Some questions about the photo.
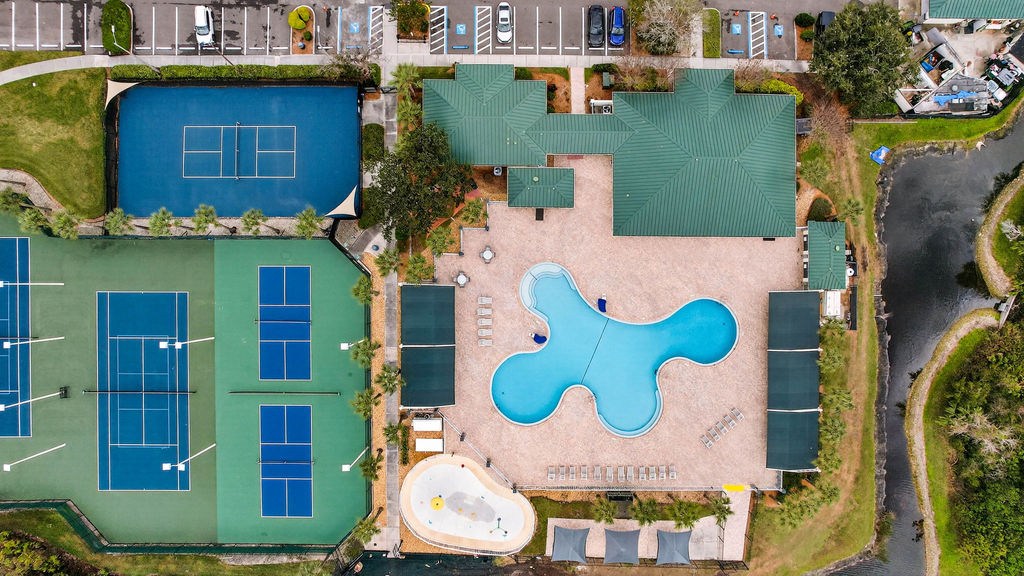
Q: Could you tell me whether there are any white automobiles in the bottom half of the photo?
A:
No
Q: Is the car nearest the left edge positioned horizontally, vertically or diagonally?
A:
vertically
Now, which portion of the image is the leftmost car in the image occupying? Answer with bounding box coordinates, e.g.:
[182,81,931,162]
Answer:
[194,2,216,46]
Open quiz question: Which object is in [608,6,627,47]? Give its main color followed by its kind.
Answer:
blue car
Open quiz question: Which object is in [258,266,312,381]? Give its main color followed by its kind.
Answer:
blue sports court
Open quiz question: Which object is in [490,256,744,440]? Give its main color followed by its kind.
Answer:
blue swimming pool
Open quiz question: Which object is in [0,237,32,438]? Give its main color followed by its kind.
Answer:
blue tennis court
